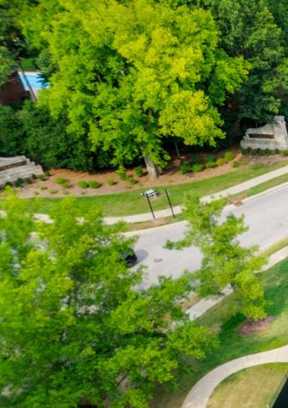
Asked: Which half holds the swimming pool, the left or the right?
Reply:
left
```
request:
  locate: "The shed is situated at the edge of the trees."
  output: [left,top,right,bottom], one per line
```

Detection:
[0,68,25,106]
